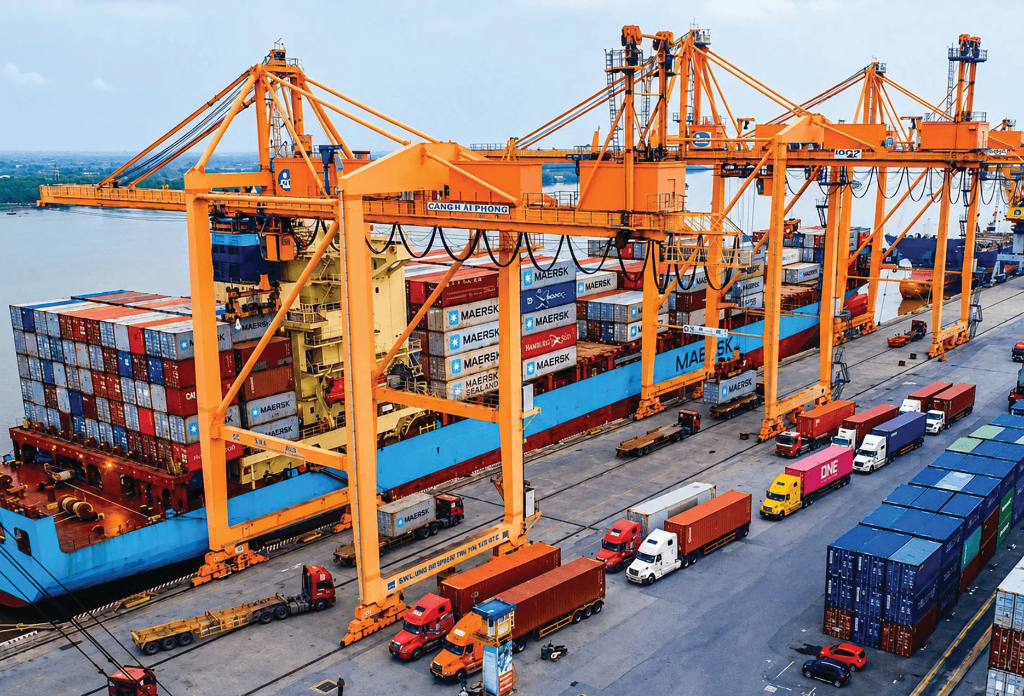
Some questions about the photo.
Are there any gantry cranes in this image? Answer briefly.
Yes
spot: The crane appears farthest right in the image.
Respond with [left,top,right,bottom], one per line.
[987,149,1024,284]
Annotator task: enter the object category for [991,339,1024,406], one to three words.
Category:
work vehicle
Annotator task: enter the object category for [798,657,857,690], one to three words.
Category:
car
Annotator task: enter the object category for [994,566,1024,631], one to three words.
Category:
shipping container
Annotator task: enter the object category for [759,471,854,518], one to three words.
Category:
truck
